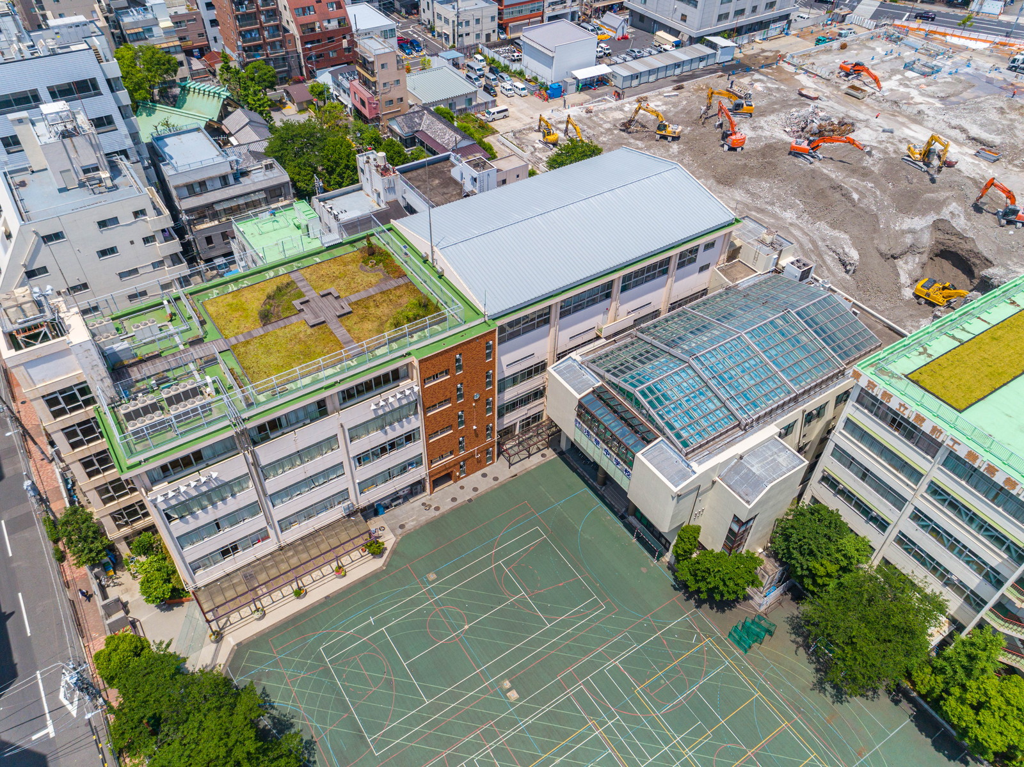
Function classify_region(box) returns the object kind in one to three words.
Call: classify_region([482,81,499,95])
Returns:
vehicle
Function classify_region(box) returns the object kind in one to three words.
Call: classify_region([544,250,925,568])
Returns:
building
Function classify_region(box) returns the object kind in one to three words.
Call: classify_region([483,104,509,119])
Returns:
vehicle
